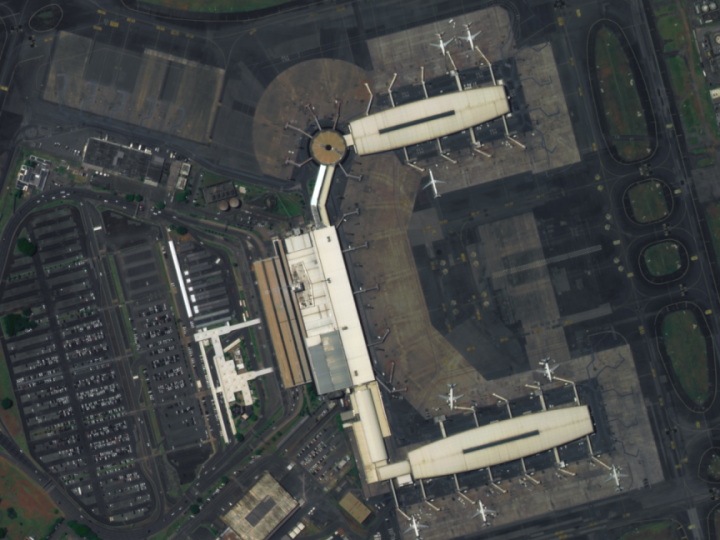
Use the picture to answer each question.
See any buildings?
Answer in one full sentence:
Yes, a building appears in the view.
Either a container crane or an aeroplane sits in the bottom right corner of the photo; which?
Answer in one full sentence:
What appears in the bottom right corner of the photo is an aeroplane.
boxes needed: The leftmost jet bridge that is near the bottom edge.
[390,479,413,522]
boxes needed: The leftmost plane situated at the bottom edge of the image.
[405,516,431,540]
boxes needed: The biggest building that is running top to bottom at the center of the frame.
[285,225,376,395]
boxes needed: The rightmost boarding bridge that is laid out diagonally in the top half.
[503,114,527,149]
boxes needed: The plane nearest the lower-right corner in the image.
[606,465,631,493]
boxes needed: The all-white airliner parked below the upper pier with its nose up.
[423,169,449,198]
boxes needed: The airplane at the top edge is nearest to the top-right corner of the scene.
[457,24,481,51]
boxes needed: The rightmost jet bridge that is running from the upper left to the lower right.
[587,435,614,472]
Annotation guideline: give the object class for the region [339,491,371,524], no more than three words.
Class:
building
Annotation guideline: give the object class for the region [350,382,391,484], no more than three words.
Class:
building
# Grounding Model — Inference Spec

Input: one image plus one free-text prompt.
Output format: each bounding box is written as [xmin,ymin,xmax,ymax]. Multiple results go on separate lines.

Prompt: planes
[440,384,464,410]
[536,356,558,382]
[423,169,449,198]
[405,516,431,540]
[430,32,452,56]
[473,501,497,527]
[457,24,481,51]
[606,465,631,493]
